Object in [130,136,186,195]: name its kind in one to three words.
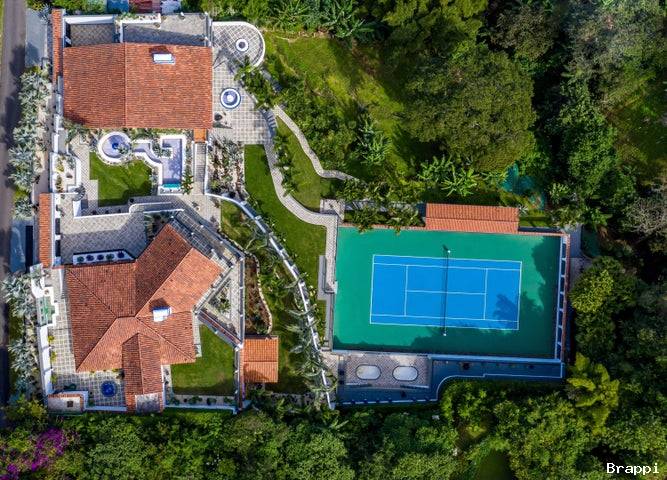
swimming pool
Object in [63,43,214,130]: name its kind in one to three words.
house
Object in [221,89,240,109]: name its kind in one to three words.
fountain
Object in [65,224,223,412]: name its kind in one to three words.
house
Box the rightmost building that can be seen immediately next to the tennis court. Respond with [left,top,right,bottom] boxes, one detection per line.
[425,203,519,234]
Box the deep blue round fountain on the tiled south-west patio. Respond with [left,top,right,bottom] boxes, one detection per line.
[100,380,119,397]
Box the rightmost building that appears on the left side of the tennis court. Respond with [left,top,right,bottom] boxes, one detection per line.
[244,336,279,384]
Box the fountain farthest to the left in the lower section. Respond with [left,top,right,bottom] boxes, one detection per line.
[37,286,61,329]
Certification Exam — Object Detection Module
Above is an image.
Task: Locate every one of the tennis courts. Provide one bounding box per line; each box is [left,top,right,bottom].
[334,227,562,358]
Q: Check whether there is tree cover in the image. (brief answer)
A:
Yes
